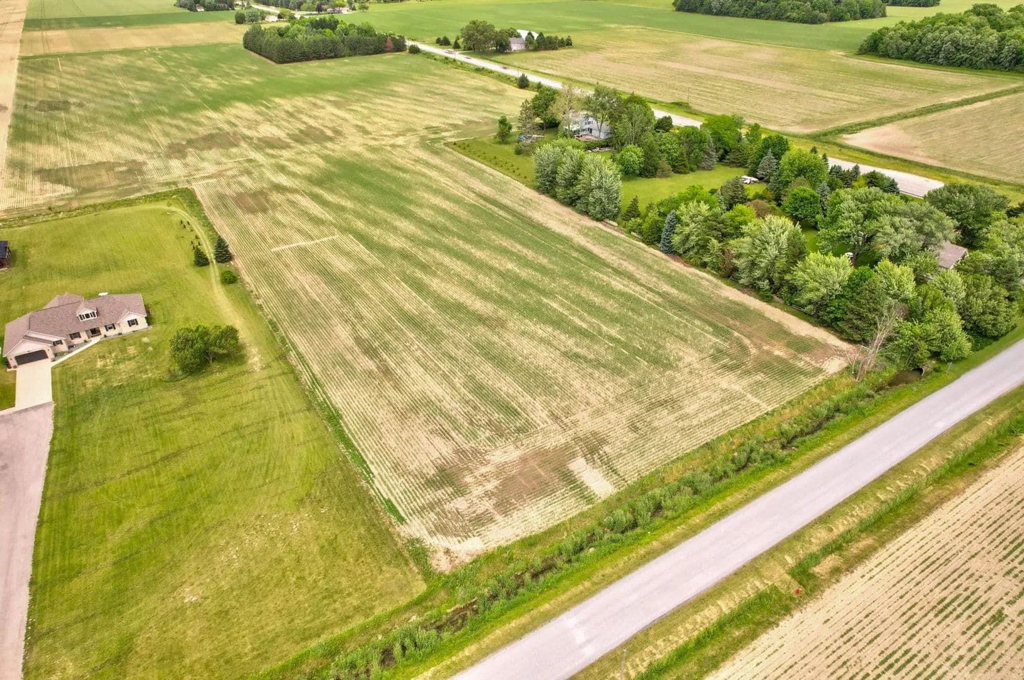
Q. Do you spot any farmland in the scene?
Yes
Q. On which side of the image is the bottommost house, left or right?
left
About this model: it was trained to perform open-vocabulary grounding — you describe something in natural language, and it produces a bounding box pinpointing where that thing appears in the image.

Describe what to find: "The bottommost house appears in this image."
[0,285,151,371]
